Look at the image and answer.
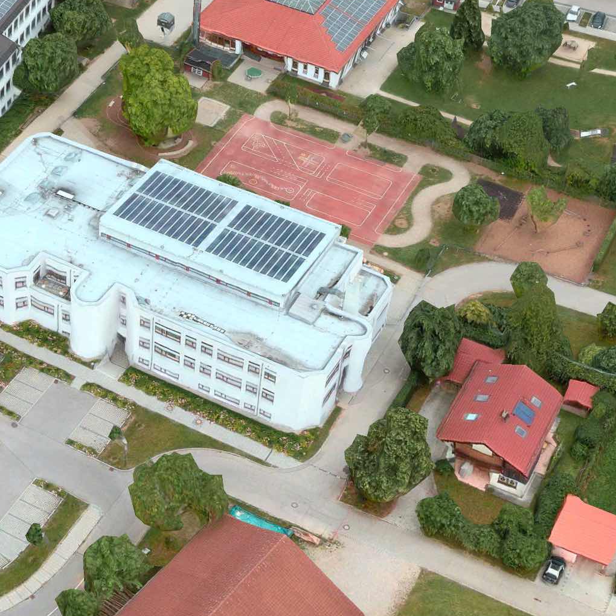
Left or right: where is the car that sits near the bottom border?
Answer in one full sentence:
You can find the car that sits near the bottom border on the right side of the picture.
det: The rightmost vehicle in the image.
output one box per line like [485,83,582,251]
[591,10,607,29]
